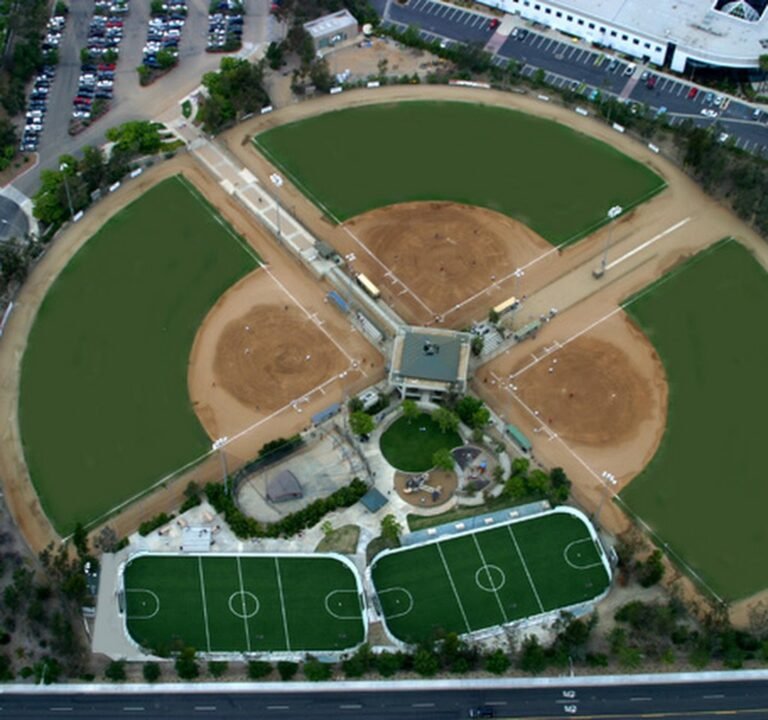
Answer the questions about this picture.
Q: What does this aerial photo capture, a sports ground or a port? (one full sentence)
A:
What you see here is a sports ground.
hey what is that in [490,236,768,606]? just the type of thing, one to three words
baseball field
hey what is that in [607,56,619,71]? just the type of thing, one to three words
vehicle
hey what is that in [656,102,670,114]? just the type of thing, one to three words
vehicle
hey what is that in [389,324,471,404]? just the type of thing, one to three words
building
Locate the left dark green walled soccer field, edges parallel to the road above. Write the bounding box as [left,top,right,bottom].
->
[118,550,371,658]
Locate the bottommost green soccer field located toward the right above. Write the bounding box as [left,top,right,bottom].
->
[365,502,616,651]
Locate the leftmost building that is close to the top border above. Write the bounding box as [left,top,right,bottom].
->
[304,8,358,52]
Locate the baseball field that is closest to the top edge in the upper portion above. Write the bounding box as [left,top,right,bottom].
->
[251,99,670,325]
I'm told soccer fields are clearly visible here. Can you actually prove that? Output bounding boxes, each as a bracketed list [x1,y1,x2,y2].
[118,550,371,658]
[365,502,616,651]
